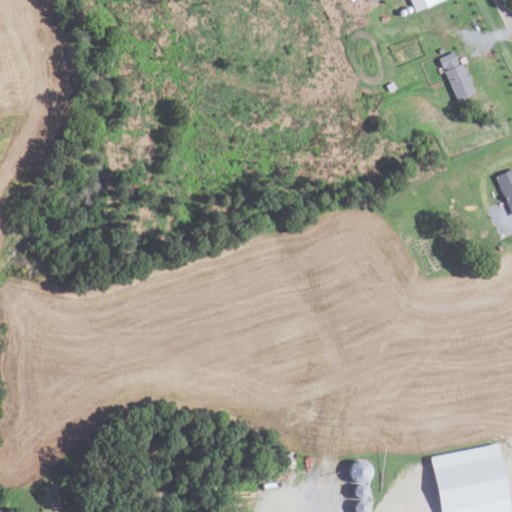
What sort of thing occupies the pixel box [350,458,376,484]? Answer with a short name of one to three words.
silo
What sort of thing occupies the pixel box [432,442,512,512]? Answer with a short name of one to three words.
barn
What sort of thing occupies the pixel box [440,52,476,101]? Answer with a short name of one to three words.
house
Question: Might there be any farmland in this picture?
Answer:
Yes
